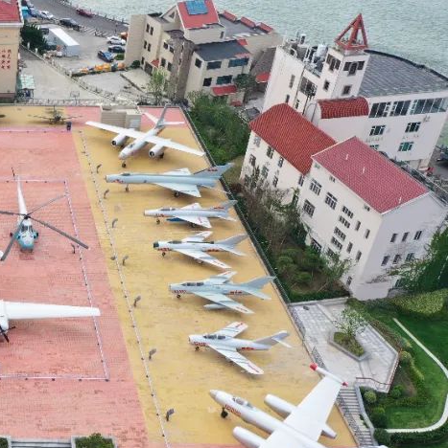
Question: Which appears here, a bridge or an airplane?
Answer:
airplane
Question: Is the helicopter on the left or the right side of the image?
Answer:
left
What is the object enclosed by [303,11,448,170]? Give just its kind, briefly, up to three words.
building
